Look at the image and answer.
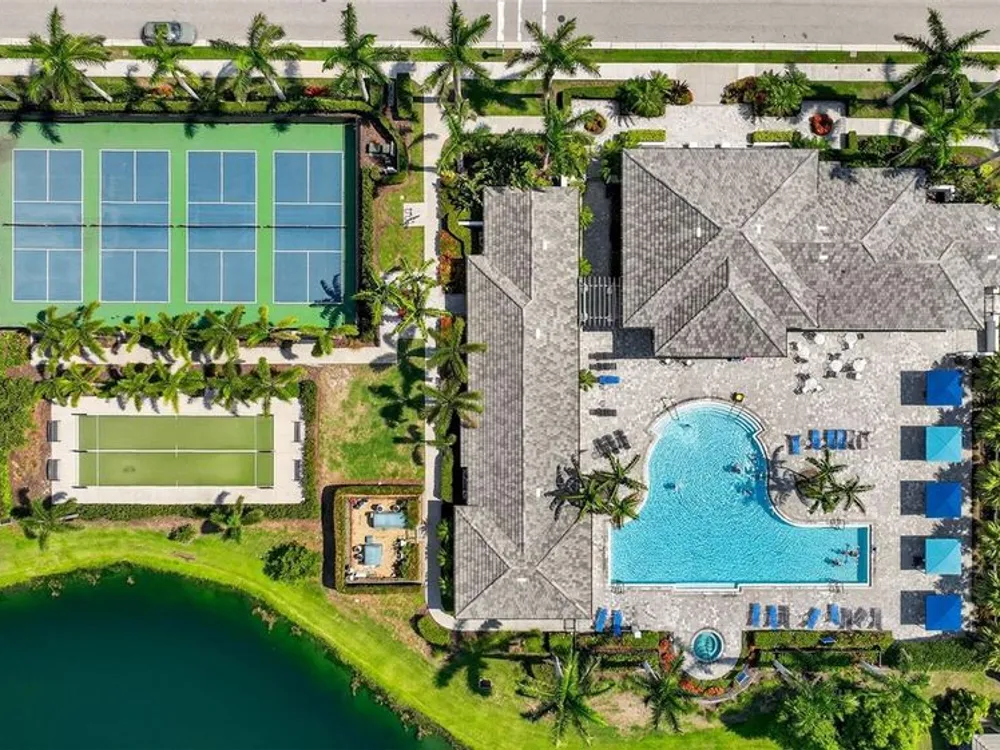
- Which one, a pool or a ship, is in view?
pool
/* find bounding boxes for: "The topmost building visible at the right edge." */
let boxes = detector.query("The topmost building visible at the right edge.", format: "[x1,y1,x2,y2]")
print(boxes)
[620,146,1000,357]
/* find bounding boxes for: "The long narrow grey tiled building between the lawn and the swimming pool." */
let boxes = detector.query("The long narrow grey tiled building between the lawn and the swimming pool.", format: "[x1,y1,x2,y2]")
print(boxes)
[454,181,594,618]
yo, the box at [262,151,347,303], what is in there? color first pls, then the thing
blue sports court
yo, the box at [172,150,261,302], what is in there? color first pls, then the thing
blue sports court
